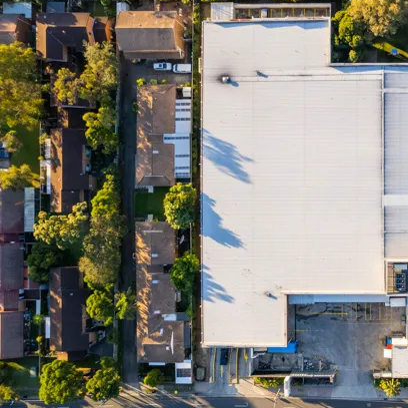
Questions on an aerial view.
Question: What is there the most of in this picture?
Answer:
buildings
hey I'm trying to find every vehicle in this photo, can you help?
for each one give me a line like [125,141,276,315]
[171,62,194,73]
[152,60,173,71]
[218,348,230,369]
